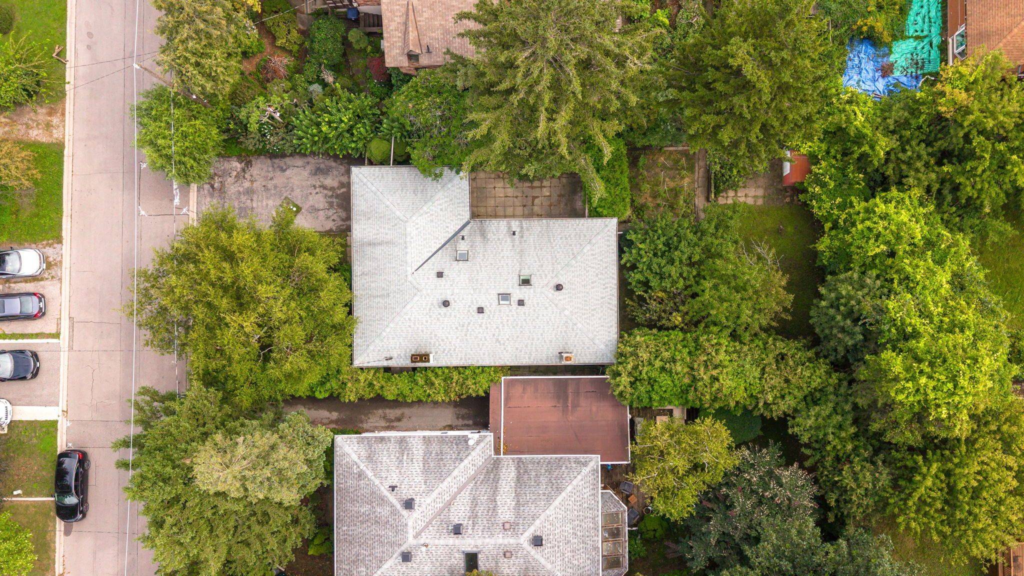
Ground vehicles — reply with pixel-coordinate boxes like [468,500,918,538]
[0,398,12,431]
[0,291,46,321]
[0,348,39,383]
[50,448,90,522]
[0,246,46,280]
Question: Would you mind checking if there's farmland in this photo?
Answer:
No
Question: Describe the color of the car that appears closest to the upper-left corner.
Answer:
white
